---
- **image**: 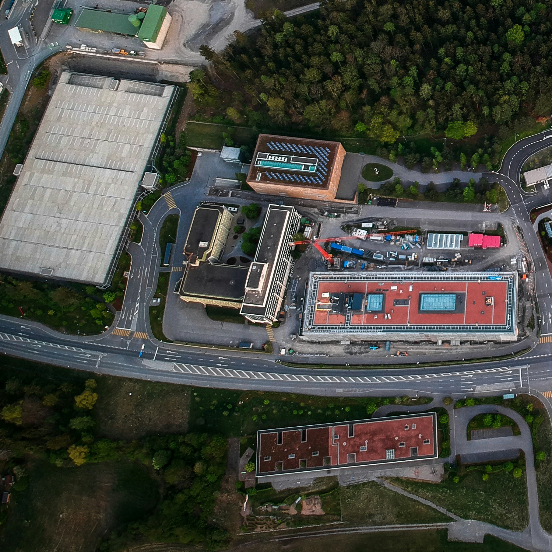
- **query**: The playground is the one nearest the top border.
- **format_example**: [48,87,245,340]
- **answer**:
[377,467,443,482]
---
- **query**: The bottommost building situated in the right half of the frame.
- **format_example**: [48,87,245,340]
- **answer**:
[256,412,439,477]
